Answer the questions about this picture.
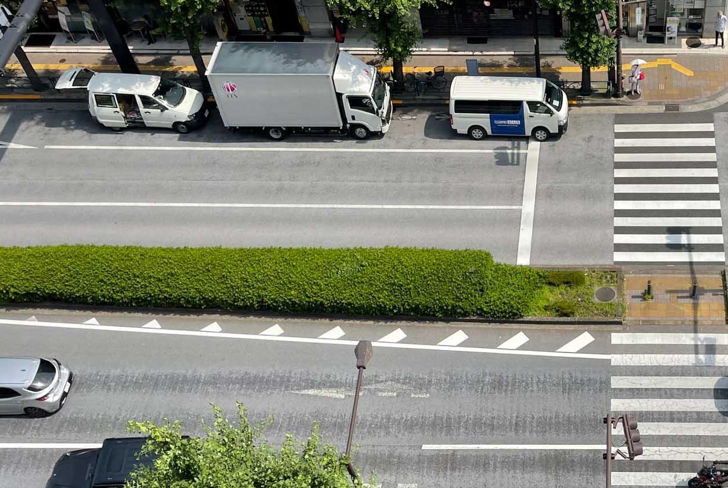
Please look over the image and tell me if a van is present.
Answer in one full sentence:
Yes, a van is visible in the scene.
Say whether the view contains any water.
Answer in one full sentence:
No, the picture contains no water.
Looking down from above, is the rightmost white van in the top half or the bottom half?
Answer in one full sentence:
The rightmost white van is in the top half of the image.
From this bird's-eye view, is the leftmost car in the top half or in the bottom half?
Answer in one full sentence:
The leftmost car is in the bottom half of the image.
